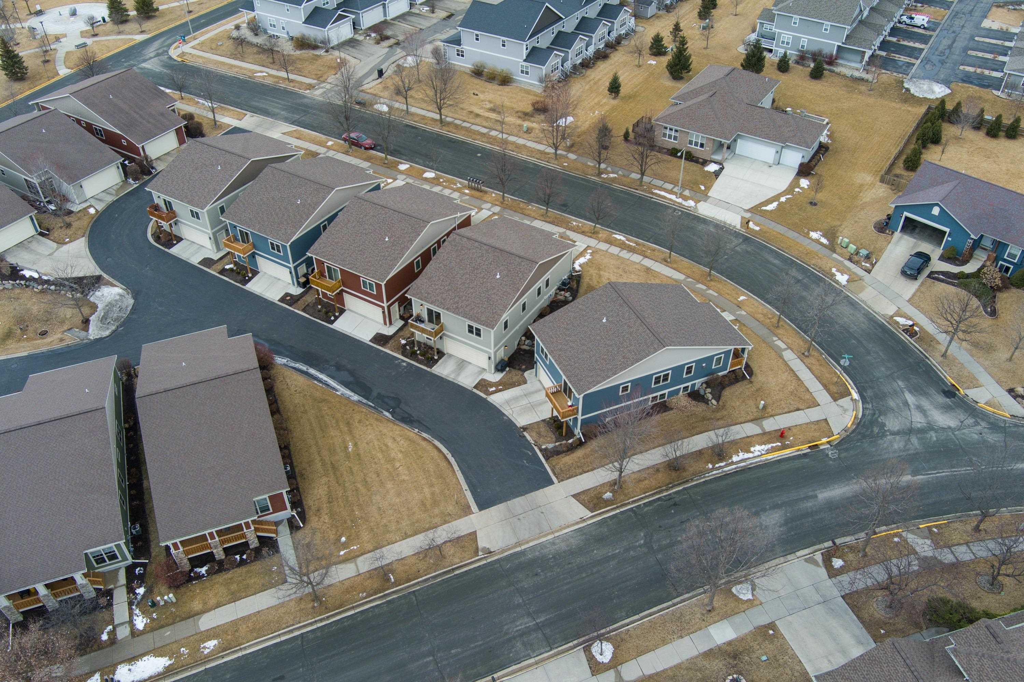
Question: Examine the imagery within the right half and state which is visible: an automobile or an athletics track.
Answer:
automobile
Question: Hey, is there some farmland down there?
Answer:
No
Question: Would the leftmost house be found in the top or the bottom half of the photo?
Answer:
top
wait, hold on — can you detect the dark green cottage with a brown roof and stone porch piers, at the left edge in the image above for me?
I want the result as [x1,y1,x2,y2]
[0,359,155,623]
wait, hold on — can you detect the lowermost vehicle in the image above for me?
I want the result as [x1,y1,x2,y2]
[901,252,931,278]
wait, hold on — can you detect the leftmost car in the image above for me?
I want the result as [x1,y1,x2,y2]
[342,131,375,149]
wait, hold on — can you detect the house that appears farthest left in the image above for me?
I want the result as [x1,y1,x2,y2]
[0,183,53,253]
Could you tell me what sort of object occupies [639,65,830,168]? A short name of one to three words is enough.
house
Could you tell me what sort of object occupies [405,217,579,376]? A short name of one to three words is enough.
house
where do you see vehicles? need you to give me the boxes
[900,12,932,28]
[342,131,375,149]
[901,252,931,278]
